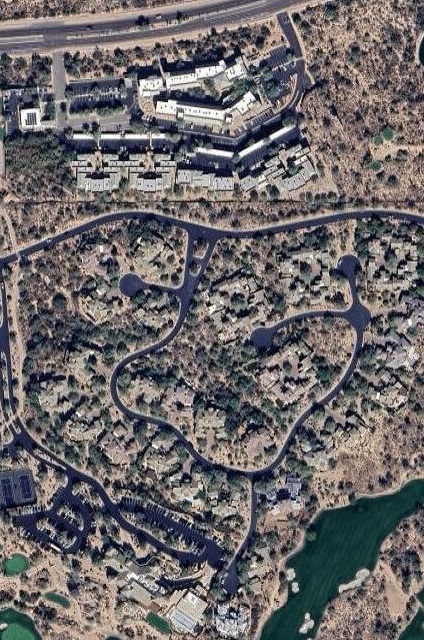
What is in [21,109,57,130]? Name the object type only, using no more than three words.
building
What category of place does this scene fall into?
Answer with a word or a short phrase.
residential area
